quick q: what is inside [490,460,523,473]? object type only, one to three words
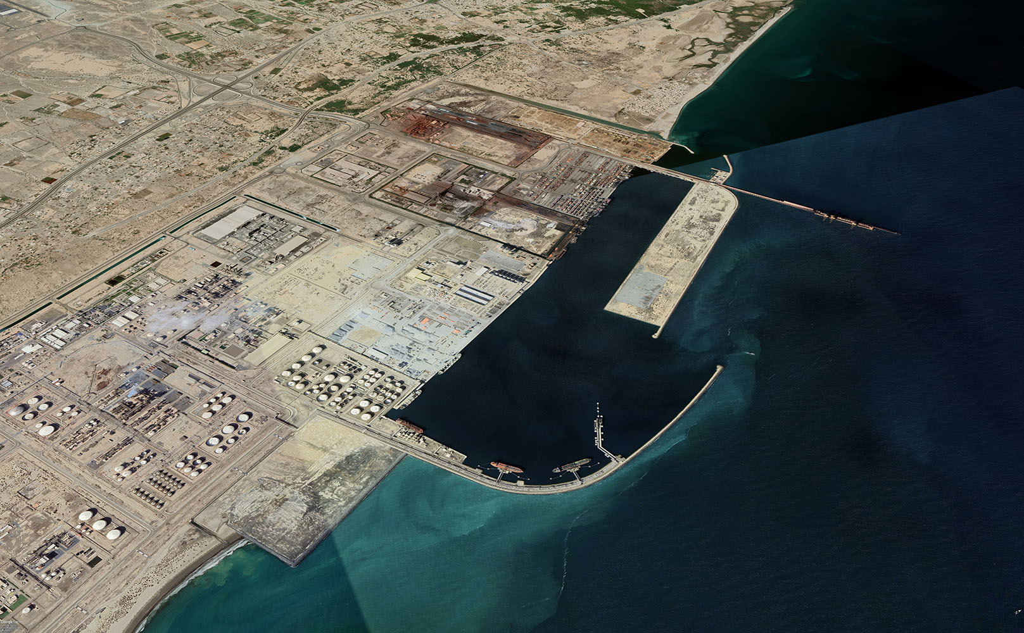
ship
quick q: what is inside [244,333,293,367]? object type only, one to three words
building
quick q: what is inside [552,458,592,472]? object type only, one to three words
ship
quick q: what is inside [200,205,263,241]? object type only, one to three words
building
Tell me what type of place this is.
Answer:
port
